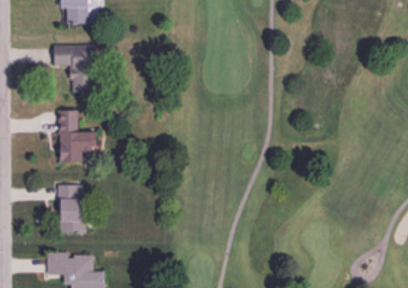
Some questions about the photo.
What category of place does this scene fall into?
golf course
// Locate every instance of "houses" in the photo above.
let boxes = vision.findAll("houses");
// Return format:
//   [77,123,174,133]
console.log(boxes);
[60,0,87,24]
[58,185,86,235]
[46,253,105,288]
[54,46,88,94]
[57,111,96,162]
